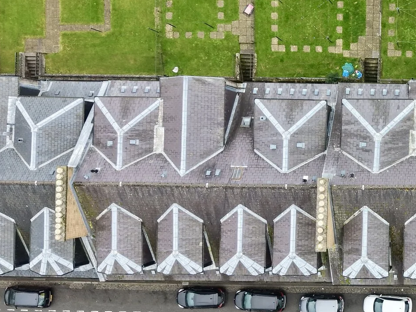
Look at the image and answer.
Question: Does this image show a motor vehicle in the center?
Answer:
No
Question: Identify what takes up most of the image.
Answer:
buildings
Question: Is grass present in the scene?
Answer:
Yes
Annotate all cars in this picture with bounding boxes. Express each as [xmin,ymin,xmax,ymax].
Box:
[234,287,287,312]
[300,293,345,312]
[363,292,413,312]
[177,286,227,311]
[5,284,56,310]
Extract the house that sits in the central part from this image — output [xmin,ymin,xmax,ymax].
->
[75,76,340,288]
